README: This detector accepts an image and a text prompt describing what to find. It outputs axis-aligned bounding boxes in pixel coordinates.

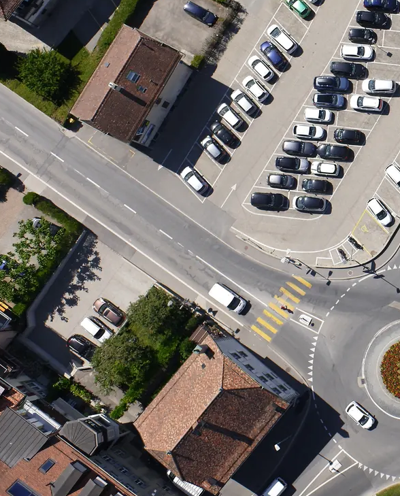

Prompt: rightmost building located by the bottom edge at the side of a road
[134,334,297,496]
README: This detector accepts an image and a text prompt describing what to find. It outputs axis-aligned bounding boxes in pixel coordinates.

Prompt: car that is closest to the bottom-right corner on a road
[343,398,377,432]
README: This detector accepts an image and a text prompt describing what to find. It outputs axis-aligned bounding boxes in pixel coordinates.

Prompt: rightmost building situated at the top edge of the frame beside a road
[70,23,190,144]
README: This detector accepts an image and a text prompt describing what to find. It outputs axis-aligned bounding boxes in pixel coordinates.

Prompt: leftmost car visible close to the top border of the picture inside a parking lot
[181,0,219,28]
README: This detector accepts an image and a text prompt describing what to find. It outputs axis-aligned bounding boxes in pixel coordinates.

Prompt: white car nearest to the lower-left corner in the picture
[79,312,115,342]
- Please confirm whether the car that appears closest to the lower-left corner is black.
Yes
